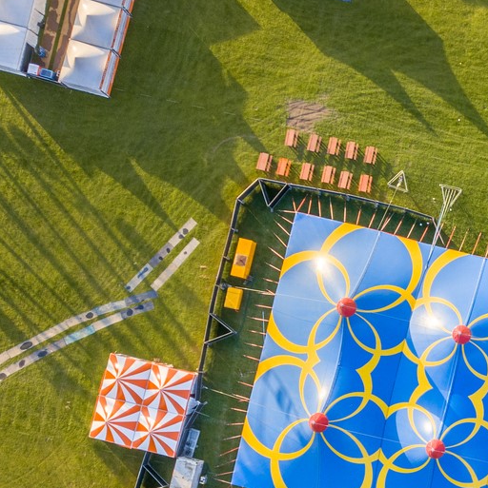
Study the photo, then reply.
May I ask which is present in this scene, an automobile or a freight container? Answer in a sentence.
Looking from above, you can make out a freight container.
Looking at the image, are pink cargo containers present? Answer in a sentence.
No, the photo shows no pink cargo container.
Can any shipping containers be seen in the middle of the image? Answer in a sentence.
Yes, a shipping container appears in the middle of the image.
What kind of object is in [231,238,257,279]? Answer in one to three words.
shipping container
